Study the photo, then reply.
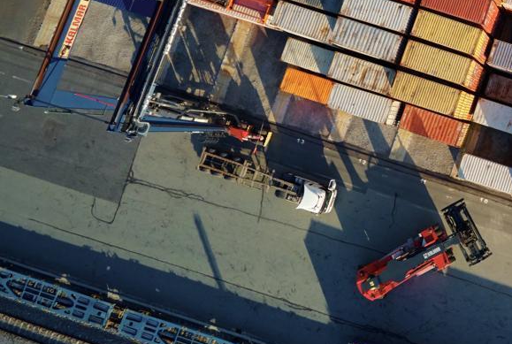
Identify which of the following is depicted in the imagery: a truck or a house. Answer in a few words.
truck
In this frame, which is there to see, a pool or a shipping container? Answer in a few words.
shipping container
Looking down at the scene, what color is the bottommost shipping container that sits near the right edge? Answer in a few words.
white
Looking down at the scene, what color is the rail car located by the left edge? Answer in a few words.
blue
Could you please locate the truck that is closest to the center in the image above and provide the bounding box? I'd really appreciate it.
[194,150,342,217]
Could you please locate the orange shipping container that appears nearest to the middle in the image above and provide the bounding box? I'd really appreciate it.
[273,65,345,104]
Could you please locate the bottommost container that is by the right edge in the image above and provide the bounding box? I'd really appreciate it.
[457,153,512,195]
